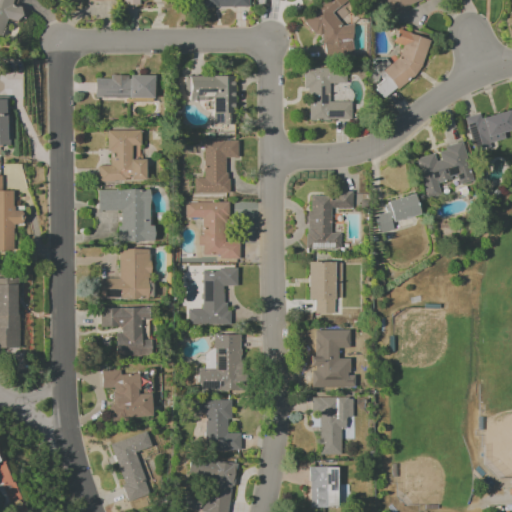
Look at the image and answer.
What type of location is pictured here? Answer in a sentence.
What you see here is a residential area.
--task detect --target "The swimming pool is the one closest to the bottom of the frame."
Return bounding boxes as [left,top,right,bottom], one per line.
[183,338,210,358]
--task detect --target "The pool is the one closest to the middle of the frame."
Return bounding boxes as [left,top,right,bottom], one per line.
[182,228,196,253]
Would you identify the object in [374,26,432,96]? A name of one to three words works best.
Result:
house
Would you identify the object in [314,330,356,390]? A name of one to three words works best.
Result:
house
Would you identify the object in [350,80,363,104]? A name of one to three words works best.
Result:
swimming pool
